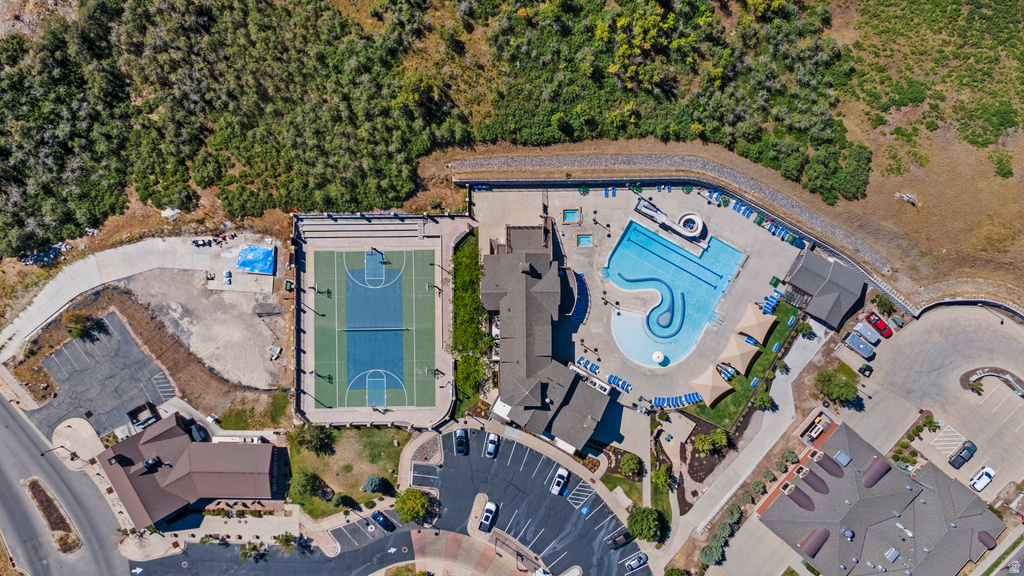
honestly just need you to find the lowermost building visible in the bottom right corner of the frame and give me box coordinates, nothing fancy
[760,422,1007,576]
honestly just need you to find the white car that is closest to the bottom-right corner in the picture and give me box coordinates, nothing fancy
[968,466,993,492]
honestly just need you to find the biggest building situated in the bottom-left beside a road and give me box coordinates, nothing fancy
[97,413,275,530]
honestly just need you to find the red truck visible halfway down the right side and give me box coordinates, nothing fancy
[864,310,892,339]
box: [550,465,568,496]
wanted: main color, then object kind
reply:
white vehicle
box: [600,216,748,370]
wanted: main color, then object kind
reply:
blue swimming pool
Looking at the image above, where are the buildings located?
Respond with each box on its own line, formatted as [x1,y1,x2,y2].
[97,413,275,530]
[785,238,864,327]
[481,216,576,433]
[539,380,610,455]
[760,422,1007,576]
